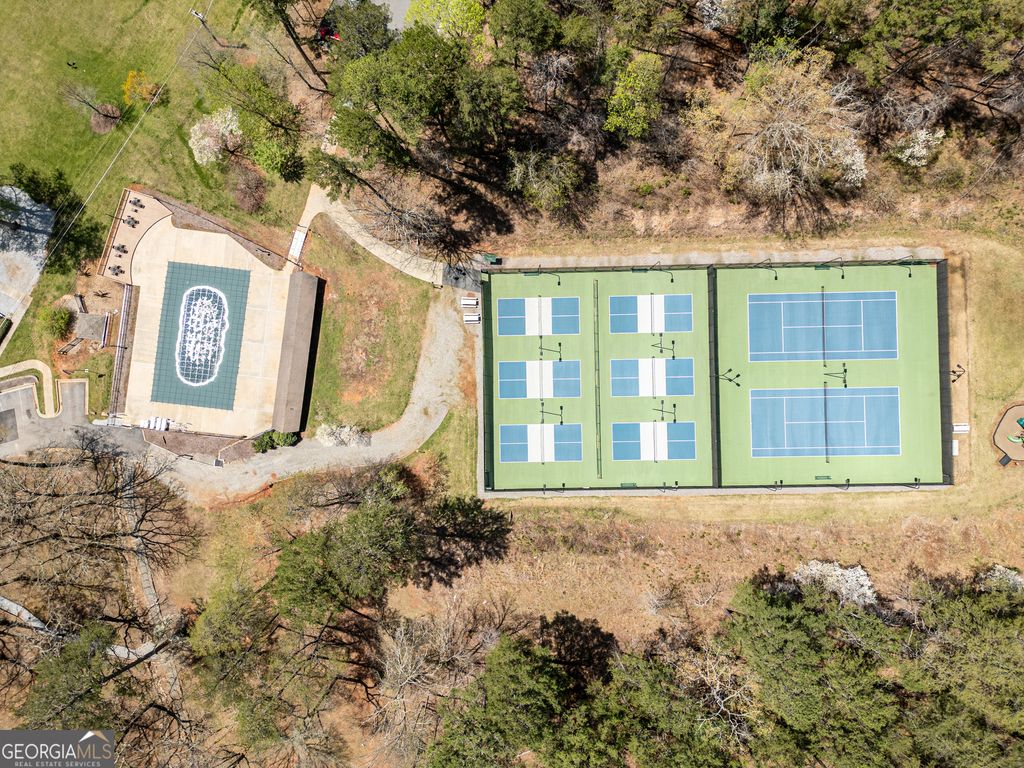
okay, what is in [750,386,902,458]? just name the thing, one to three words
tennis court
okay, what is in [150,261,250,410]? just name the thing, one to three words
swimming pool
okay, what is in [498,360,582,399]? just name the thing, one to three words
sports court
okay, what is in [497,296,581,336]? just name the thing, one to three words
sports court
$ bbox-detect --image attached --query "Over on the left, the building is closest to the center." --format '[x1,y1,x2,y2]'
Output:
[272,271,320,433]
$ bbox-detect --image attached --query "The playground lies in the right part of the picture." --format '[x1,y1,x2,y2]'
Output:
[993,403,1024,466]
